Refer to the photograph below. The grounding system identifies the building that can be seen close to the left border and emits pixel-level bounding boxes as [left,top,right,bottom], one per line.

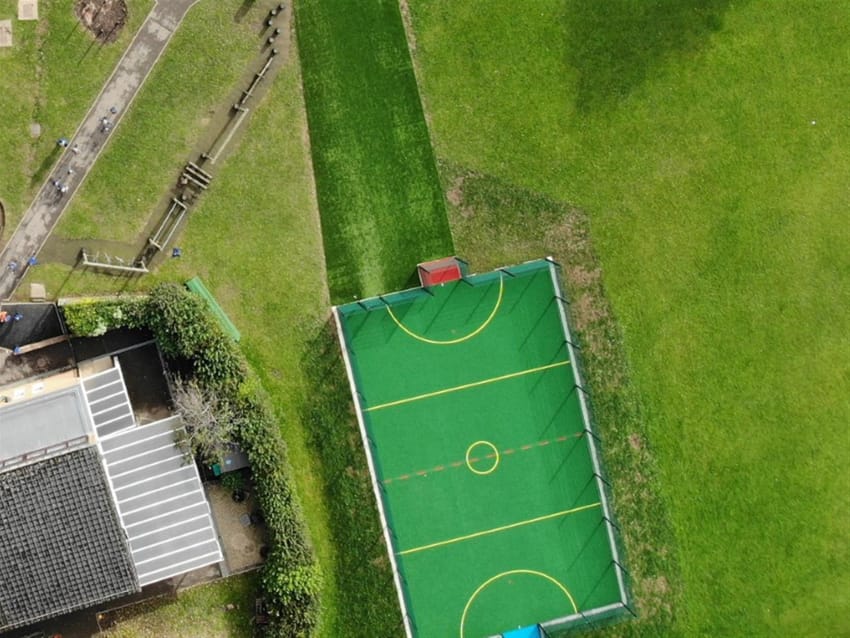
[0,371,142,632]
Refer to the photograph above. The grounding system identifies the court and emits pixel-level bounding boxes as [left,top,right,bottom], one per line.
[334,257,628,638]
